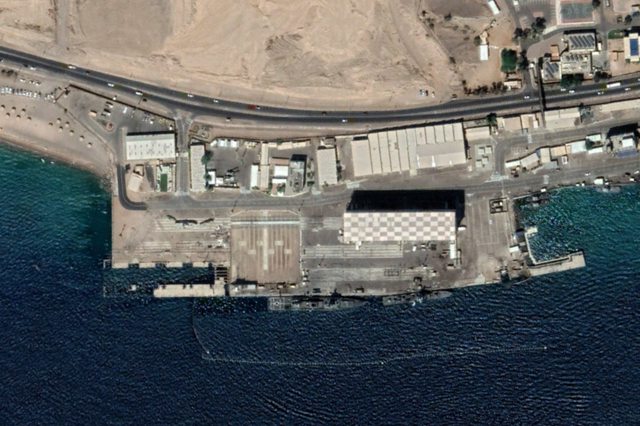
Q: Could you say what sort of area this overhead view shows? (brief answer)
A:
port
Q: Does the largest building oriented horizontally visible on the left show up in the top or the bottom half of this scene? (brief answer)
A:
top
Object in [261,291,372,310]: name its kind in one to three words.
ship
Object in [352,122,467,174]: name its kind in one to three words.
building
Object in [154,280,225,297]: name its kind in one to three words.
pier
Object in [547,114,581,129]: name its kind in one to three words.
shed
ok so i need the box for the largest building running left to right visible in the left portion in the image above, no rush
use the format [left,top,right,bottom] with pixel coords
[126,134,175,161]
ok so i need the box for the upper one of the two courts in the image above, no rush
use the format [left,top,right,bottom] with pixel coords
[558,0,594,25]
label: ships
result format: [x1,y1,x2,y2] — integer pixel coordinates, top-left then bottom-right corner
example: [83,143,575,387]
[382,285,452,306]
[261,291,372,310]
